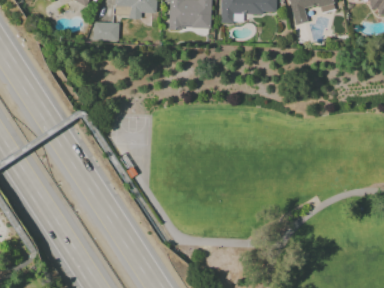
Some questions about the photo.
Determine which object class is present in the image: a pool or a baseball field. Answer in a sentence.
The image shows a pool.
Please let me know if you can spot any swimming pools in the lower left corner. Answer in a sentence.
No, in the lower left corner there is no swimming pool.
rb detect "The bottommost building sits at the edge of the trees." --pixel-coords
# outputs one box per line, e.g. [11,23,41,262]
[95,22,120,42]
